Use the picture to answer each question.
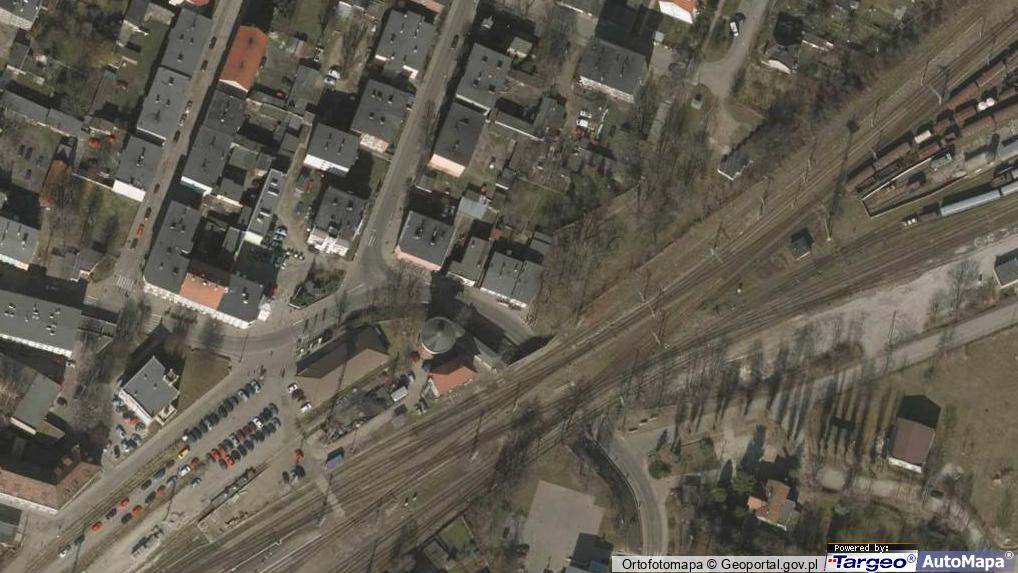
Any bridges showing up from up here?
Yes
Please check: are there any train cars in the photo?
Yes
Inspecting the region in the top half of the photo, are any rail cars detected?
Yes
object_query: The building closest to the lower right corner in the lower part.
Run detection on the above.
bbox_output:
[887,417,937,471]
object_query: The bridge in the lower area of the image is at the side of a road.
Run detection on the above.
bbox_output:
[509,336,600,438]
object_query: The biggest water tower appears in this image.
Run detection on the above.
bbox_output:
[422,318,467,360]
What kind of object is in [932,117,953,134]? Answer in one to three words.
rail car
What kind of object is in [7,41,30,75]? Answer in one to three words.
shed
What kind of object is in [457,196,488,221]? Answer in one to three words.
building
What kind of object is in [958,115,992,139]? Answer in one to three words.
rail car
